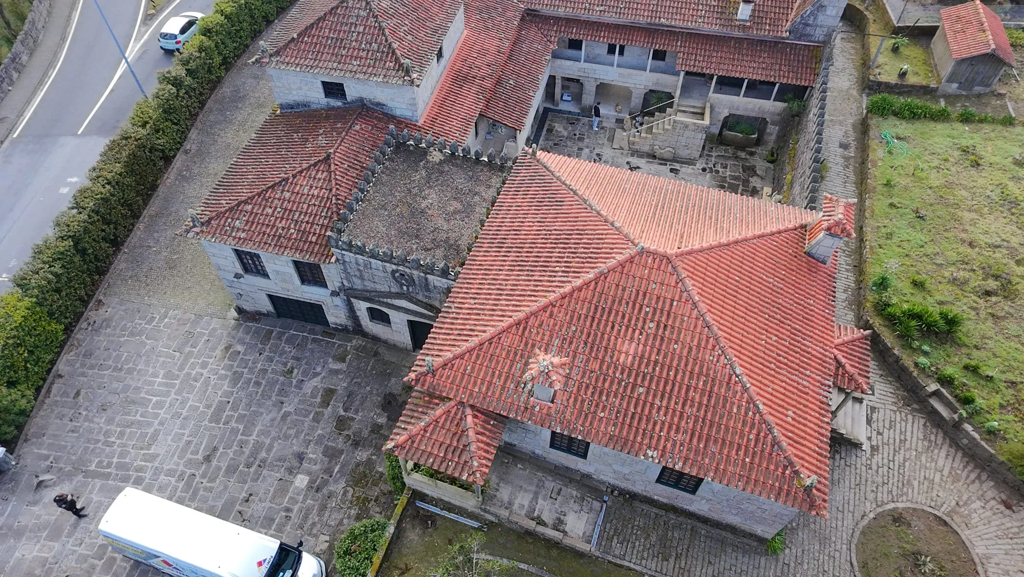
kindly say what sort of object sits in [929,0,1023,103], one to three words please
shed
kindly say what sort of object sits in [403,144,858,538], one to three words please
house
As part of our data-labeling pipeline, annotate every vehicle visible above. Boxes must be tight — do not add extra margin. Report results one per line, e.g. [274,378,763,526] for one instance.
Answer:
[101,492,332,577]
[156,12,210,51]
